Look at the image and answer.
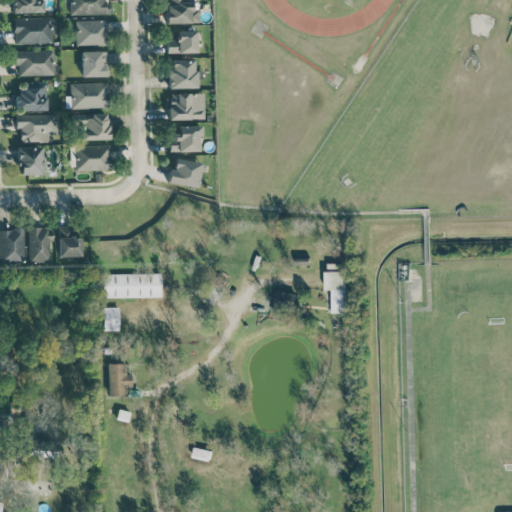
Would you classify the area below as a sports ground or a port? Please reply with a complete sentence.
This looks like a sports ground.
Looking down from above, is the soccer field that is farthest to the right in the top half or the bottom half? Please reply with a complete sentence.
The soccer field that is farthest to the right is in the bottom half of the image.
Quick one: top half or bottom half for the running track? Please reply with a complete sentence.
You can find the running track in the top half.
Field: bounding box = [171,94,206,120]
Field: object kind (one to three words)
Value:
house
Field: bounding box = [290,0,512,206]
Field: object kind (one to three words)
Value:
sports field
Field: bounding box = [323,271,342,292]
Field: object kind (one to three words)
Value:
barn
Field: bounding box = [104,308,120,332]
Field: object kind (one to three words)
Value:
shed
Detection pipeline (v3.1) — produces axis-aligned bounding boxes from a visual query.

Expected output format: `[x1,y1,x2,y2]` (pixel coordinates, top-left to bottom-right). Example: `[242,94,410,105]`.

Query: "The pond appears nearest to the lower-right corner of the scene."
[250,337,310,432]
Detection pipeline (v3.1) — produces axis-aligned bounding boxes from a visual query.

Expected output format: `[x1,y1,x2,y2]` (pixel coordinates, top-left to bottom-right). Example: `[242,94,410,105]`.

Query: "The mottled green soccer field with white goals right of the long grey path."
[416,264,512,512]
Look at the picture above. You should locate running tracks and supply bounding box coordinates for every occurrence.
[264,0,394,36]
